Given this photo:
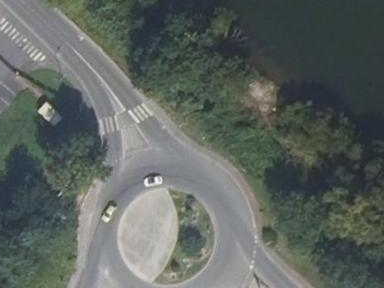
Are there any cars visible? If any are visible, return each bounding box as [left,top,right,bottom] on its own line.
[103,204,117,222]
[144,177,163,187]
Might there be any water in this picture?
Yes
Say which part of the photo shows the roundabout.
bottom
